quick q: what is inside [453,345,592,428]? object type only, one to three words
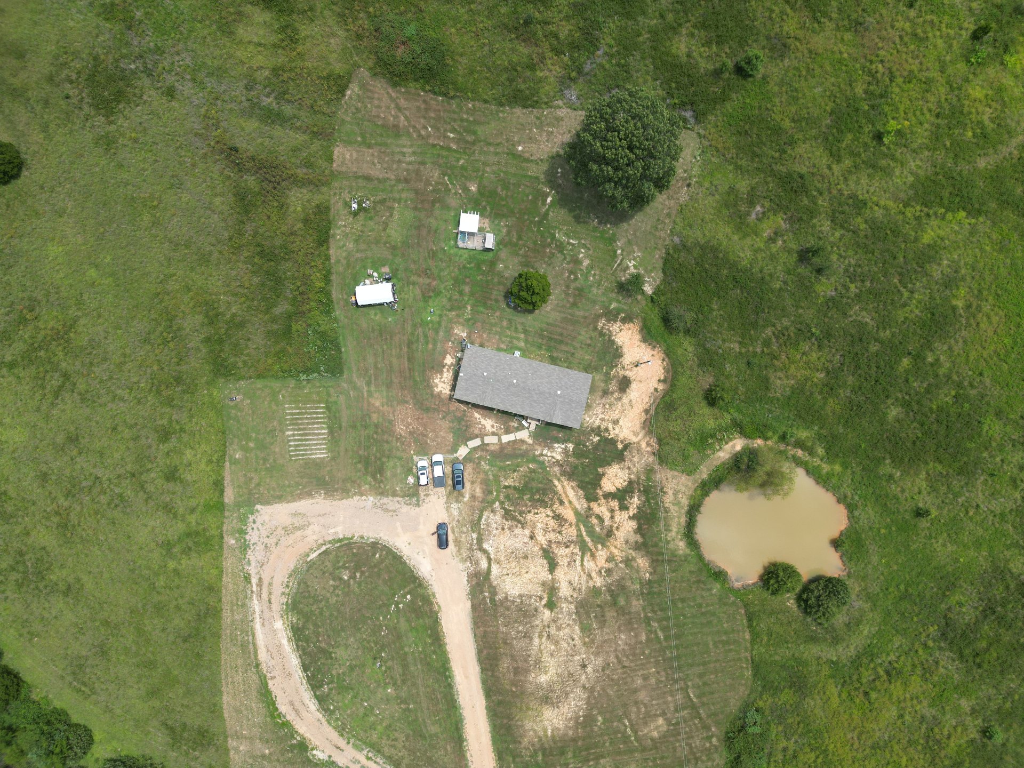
house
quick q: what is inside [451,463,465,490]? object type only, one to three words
car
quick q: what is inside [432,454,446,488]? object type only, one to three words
vehicle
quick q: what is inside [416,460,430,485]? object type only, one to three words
car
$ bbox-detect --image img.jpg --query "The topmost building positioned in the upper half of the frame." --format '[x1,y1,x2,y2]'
[452,210,495,253]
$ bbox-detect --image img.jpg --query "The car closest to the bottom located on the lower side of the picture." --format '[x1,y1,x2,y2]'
[432,522,449,549]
